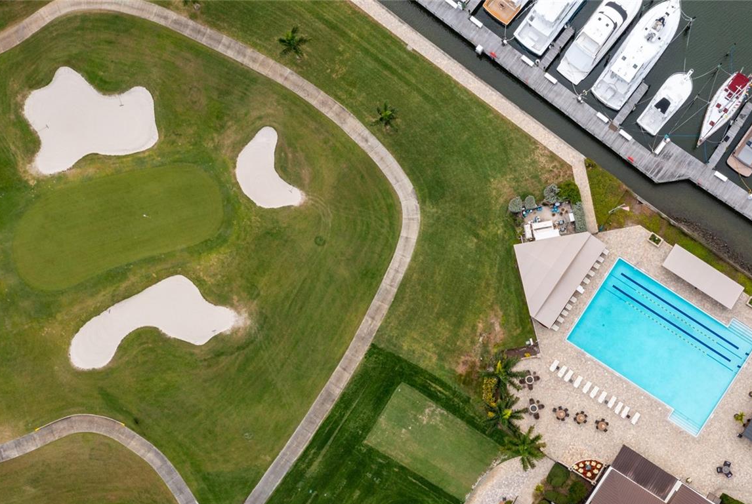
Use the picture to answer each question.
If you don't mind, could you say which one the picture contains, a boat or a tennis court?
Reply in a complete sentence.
The one in the frame is a boat.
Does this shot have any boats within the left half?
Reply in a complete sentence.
No, there is no boat within the left half.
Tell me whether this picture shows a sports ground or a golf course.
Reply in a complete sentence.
This looks like a golf course.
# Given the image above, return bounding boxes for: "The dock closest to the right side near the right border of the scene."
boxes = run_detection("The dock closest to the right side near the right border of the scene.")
[707,101,752,169]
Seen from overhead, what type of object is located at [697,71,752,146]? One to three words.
boat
